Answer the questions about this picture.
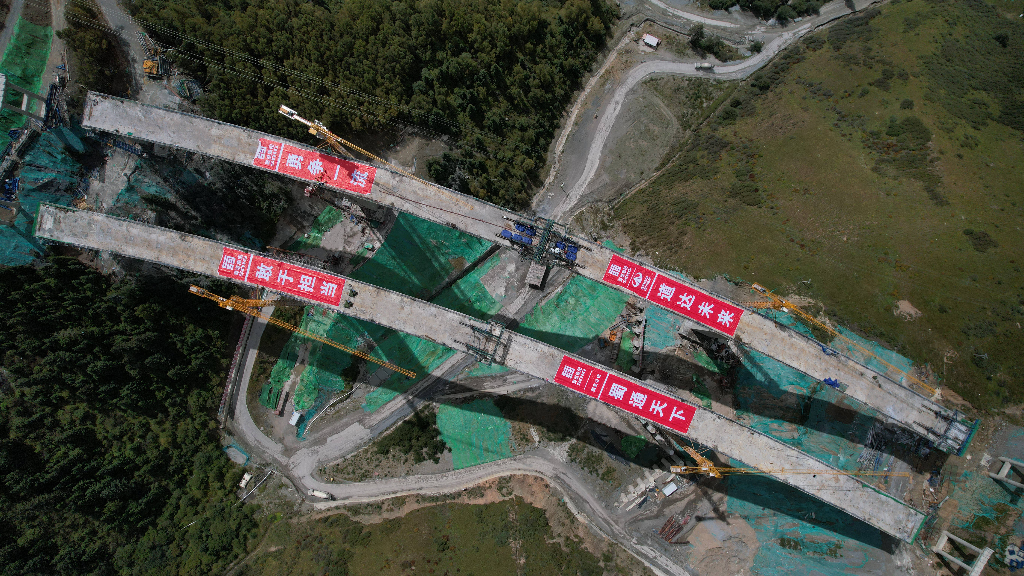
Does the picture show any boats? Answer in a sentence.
No, the photo shows no boat.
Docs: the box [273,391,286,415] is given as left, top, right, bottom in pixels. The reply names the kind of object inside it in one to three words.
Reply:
vehicle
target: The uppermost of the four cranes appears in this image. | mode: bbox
[276,104,475,212]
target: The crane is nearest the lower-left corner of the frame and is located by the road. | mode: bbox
[189,280,418,378]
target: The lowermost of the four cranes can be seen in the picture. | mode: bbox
[650,422,910,479]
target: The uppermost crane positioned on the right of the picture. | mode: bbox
[731,283,936,396]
